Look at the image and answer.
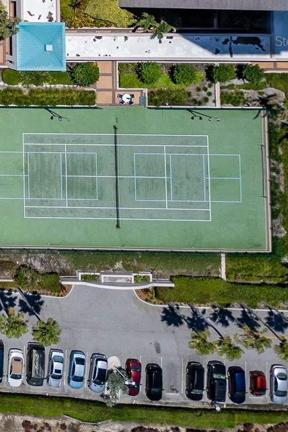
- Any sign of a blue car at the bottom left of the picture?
Yes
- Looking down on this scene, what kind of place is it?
sports ground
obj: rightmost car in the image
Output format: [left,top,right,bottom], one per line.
[269,363,288,401]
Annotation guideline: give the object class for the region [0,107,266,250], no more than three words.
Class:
tennis court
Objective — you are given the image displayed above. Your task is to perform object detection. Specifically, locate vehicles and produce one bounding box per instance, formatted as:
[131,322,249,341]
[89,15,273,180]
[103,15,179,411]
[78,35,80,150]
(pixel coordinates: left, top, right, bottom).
[47,347,65,385]
[88,352,107,390]
[269,363,288,401]
[183,359,204,398]
[224,363,245,401]
[124,359,142,392]
[247,365,266,397]
[69,349,86,387]
[205,355,225,403]
[145,361,163,399]
[26,341,44,382]
[6,348,24,384]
